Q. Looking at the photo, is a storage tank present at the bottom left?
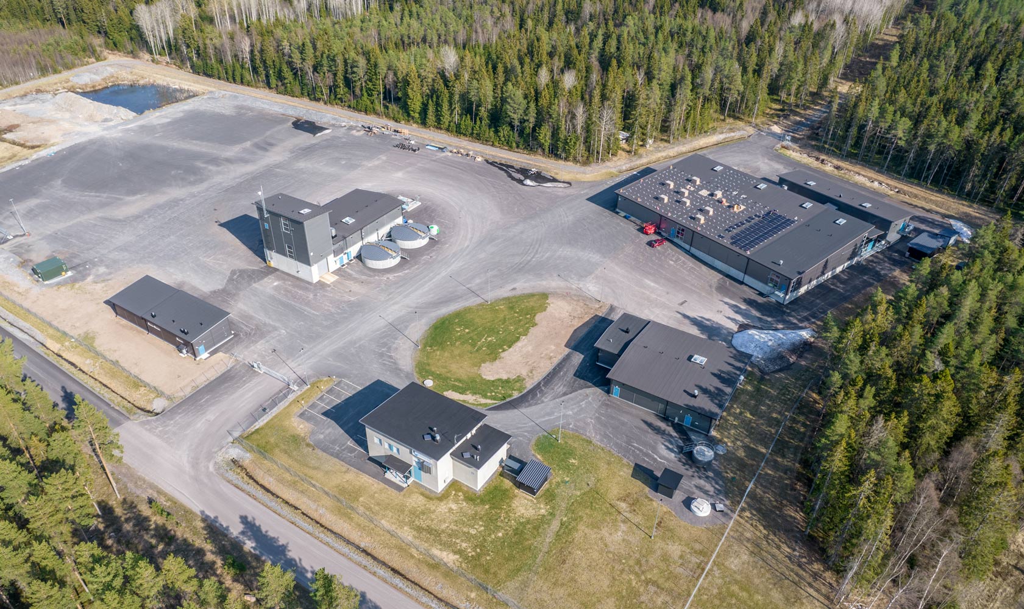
No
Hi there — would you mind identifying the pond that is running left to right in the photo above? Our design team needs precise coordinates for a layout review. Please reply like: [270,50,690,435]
[82,83,198,114]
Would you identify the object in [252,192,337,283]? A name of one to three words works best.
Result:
building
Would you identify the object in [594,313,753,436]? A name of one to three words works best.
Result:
building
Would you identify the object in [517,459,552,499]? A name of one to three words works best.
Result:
shed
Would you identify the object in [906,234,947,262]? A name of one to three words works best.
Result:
shed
